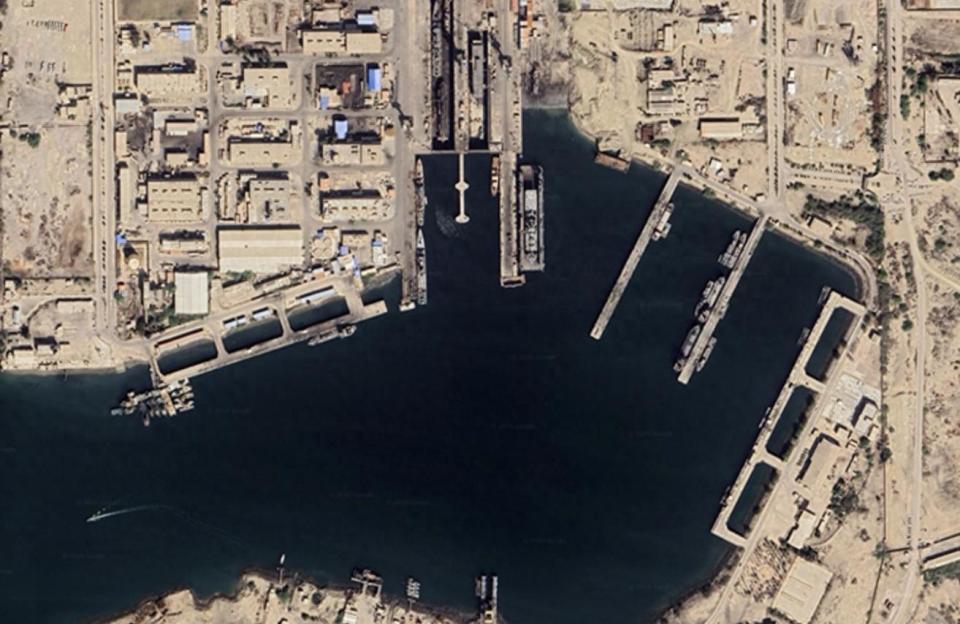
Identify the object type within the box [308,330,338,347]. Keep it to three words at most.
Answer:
ship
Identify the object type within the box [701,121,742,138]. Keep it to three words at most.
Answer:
building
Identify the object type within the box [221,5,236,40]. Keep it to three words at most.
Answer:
shed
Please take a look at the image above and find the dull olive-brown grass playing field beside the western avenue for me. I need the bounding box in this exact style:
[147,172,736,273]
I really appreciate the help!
[117,0,197,22]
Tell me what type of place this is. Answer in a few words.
port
